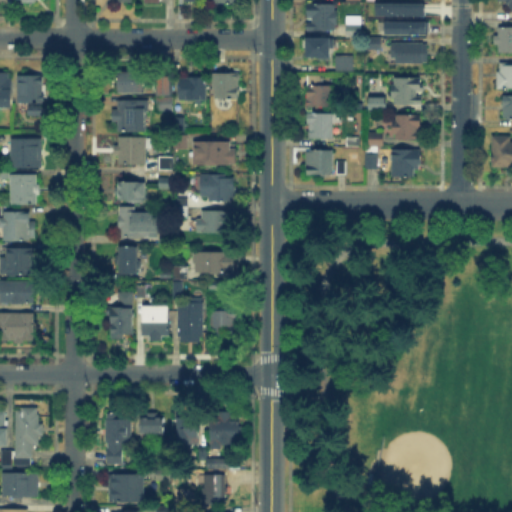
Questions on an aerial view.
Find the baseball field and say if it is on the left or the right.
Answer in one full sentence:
You can find the baseball field on the right side of the picture.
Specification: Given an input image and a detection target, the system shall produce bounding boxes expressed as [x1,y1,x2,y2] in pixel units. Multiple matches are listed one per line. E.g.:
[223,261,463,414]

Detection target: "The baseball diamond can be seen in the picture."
[347,252,512,512]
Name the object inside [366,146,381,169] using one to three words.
building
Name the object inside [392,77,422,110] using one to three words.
house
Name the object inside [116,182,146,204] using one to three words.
house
